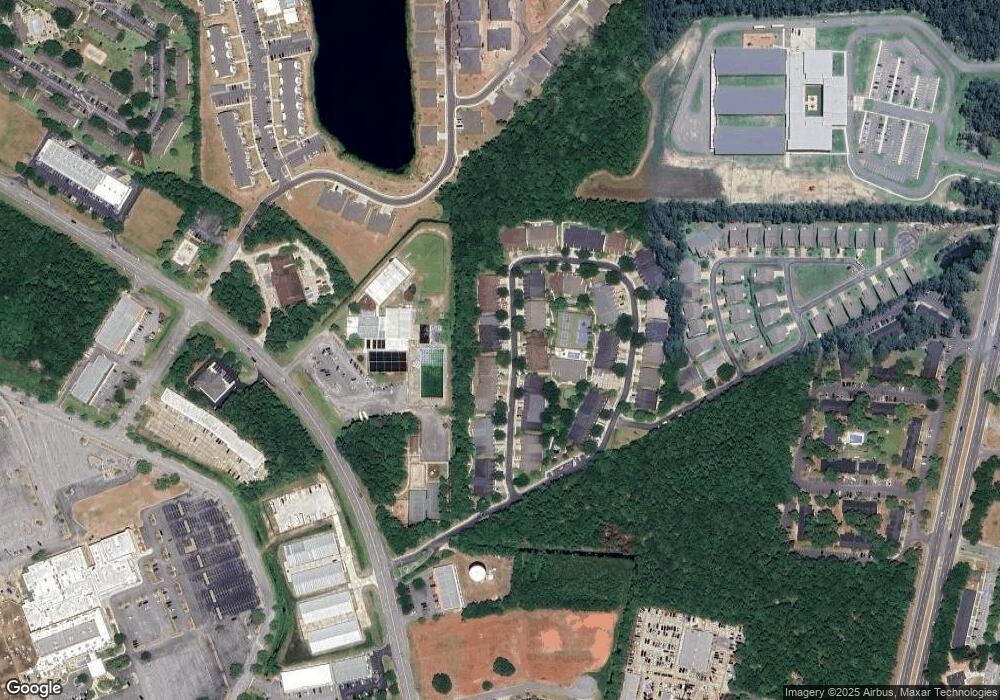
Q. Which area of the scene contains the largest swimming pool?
top left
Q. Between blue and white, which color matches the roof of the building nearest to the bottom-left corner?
white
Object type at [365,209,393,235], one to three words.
house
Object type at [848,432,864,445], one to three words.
swimming pool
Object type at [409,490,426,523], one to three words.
tennis court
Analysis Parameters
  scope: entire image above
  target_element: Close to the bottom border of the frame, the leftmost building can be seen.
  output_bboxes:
[19,528,146,678]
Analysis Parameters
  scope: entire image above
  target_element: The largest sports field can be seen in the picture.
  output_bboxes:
[406,235,445,294]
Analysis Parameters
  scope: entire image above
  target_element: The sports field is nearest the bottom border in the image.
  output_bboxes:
[421,349,443,397]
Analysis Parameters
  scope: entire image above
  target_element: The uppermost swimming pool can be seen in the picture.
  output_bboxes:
[17,6,60,42]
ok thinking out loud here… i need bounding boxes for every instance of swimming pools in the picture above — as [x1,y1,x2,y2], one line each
[555,349,587,359]
[848,432,864,445]
[17,6,60,42]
